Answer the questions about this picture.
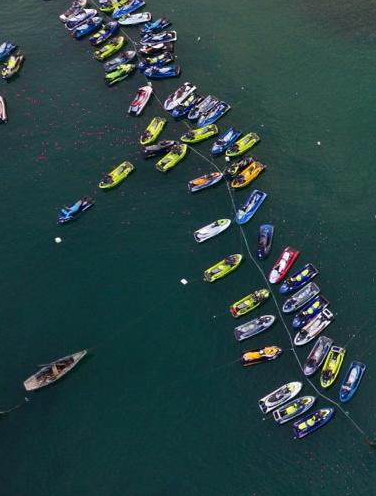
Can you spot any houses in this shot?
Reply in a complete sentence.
No, the picture doesn't show any house.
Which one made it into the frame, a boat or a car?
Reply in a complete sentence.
Of the two, only a boat appears.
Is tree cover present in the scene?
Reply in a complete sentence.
No, there's no tree cover in this view.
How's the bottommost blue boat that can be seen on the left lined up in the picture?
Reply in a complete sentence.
In this picture, the bottommost blue boat that can be seen on the left lies at an angle.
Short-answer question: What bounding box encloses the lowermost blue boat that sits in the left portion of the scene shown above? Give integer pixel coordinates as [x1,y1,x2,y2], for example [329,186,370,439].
[58,196,96,225]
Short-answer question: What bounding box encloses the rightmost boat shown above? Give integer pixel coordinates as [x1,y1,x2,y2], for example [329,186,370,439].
[341,360,368,403]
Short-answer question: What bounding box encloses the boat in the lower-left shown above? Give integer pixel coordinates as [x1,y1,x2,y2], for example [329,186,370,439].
[24,350,88,392]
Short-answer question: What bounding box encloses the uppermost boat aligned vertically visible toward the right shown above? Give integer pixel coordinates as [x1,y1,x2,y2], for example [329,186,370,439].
[256,224,272,262]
